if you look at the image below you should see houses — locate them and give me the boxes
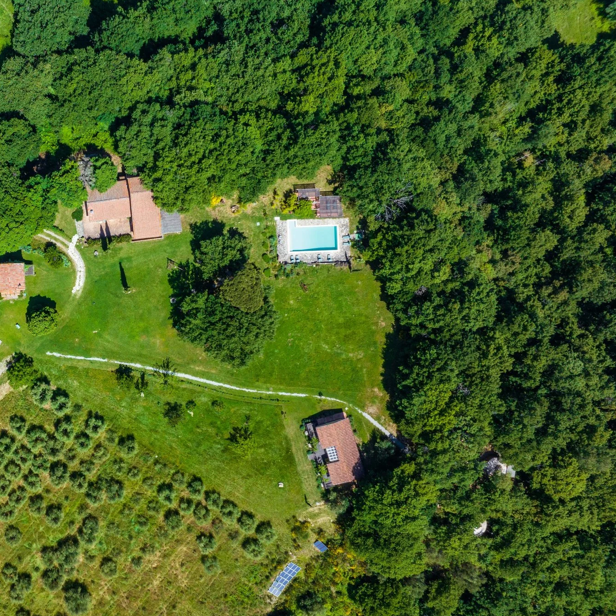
[75,176,182,241]
[304,411,366,489]
[0,263,34,300]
